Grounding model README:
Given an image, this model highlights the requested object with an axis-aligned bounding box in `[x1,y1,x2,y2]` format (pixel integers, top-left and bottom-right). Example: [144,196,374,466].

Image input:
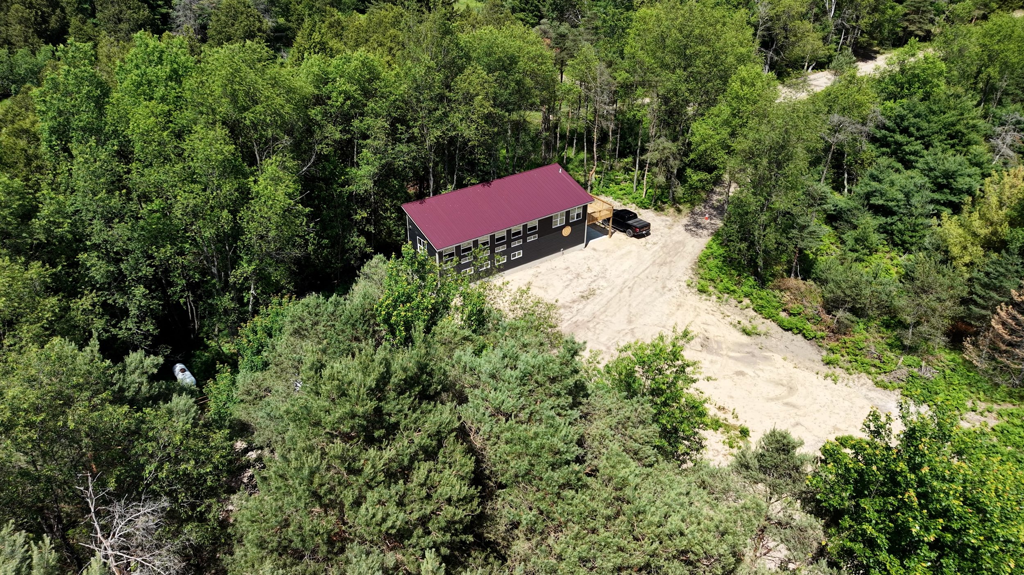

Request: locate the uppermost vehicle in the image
[605,210,653,237]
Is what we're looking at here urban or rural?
rural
